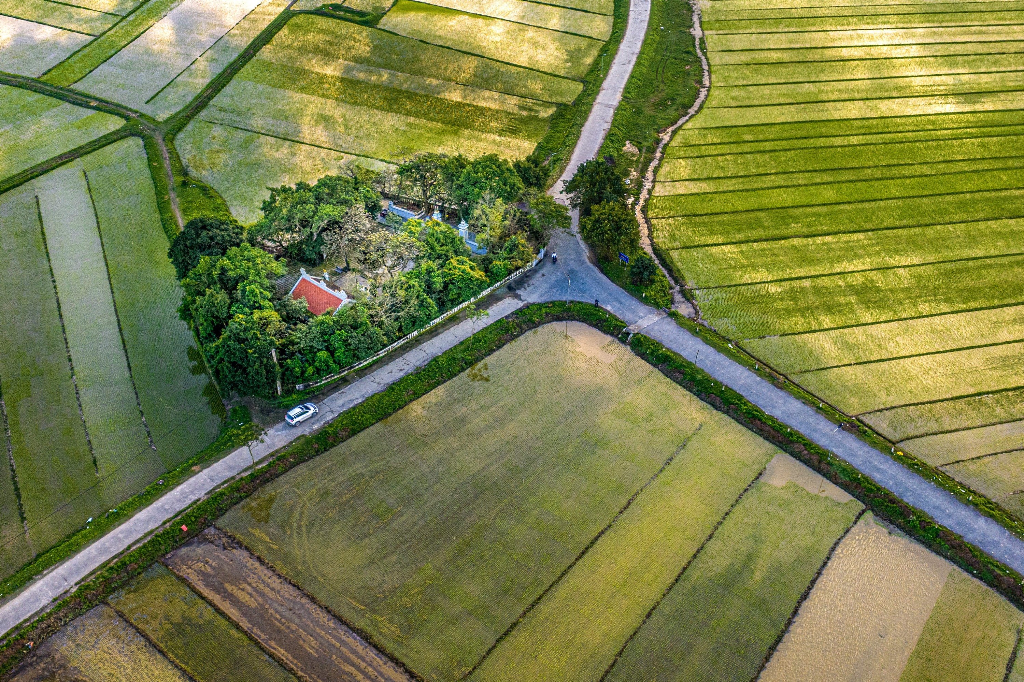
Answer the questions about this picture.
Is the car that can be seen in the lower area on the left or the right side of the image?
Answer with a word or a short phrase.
left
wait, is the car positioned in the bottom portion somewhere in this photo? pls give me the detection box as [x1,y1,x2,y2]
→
[282,403,319,428]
